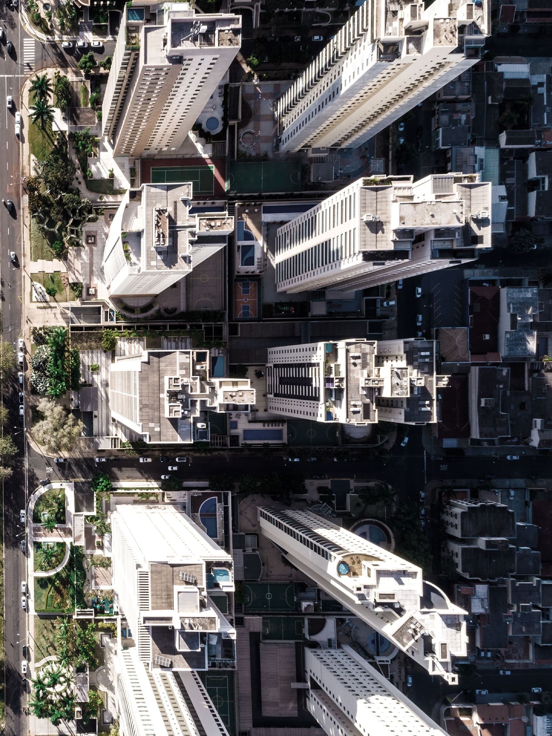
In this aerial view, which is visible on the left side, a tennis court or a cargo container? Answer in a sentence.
The one visible on the left side is a tennis court.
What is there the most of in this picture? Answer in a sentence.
What you mostly see from above here is buildings.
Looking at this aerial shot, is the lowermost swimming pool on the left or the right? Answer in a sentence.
The lowermost swimming pool is on the right side of the image.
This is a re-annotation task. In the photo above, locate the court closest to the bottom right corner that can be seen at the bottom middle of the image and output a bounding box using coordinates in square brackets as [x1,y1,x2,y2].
[262,618,304,640]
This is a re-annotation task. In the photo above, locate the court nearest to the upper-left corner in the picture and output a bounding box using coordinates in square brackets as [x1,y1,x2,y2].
[142,158,226,201]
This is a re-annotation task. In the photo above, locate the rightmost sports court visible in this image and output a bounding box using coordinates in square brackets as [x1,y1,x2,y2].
[287,420,339,446]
